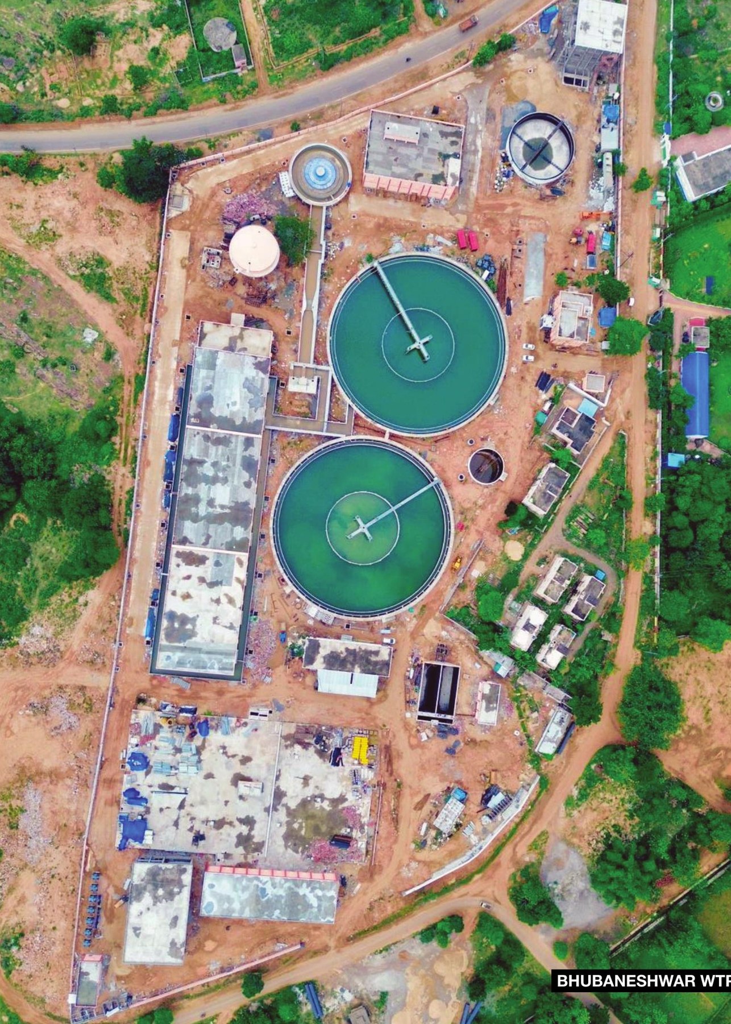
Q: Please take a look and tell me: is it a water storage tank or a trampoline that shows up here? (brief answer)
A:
water storage tank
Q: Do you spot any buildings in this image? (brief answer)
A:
Yes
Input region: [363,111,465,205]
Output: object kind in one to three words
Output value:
house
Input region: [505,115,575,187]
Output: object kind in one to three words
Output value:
storage tank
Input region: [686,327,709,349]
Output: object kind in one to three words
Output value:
building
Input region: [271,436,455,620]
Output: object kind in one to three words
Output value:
water tank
